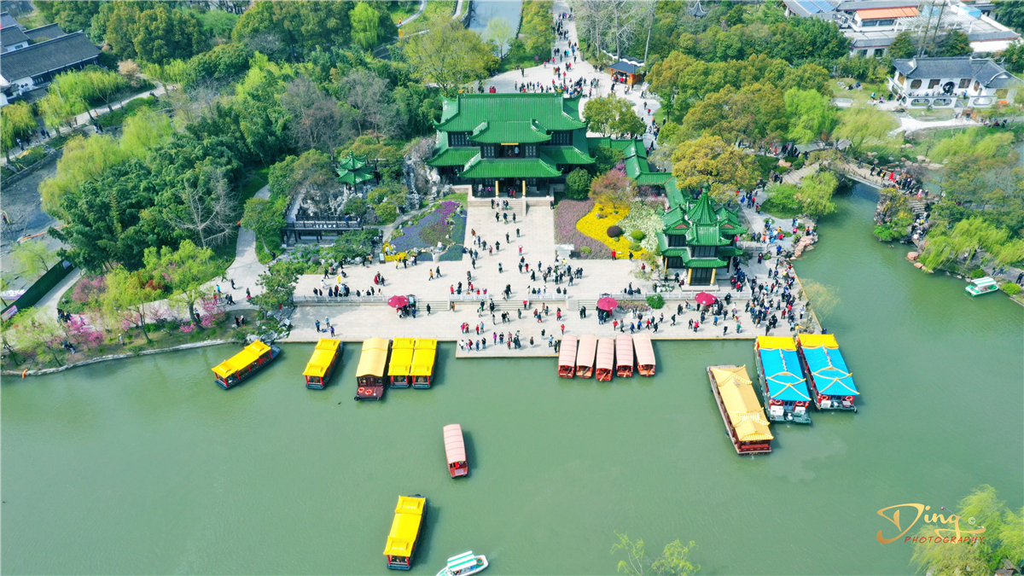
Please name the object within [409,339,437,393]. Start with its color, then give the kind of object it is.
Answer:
yellow boat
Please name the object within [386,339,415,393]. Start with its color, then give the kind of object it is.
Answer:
yellow boat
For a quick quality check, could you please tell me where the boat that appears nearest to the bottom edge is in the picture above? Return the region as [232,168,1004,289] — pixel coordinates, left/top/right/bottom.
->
[438,544,494,576]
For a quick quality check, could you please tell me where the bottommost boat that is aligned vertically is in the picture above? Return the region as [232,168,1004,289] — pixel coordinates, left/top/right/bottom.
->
[381,493,427,575]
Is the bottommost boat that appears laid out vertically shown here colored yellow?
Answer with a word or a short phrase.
Yes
